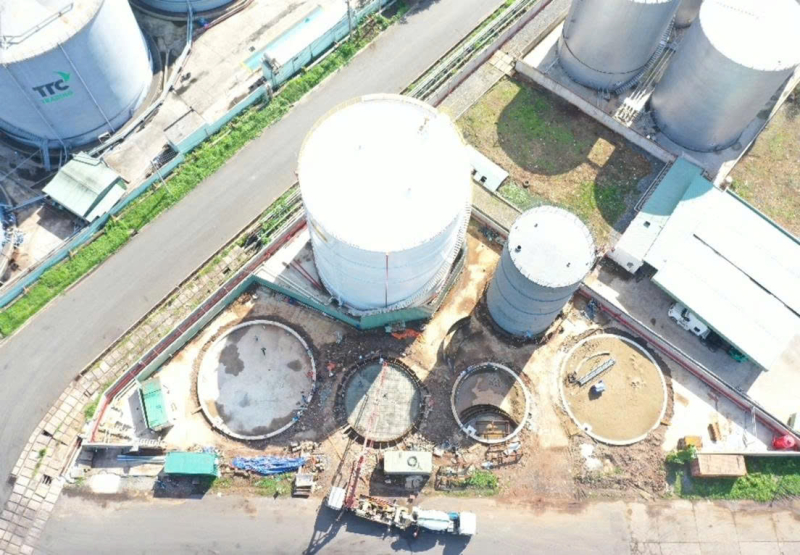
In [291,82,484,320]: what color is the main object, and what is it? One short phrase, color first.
white storage tank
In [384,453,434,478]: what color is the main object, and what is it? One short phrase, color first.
white shipping container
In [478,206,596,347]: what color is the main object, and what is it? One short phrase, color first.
white storage tank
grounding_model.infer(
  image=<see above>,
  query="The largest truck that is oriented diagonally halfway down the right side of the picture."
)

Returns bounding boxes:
[666,306,726,357]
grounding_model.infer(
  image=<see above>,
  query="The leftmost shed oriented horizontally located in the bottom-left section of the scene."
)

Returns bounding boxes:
[164,451,224,480]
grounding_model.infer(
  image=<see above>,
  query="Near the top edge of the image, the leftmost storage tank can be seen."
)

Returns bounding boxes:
[0,0,166,151]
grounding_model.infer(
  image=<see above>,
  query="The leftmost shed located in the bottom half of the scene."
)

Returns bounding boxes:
[135,375,174,431]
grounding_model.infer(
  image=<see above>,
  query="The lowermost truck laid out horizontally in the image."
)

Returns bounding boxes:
[402,505,477,536]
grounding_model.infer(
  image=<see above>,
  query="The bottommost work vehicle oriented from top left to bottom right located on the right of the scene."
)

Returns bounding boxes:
[723,347,747,366]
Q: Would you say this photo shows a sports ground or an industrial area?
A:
industrial area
